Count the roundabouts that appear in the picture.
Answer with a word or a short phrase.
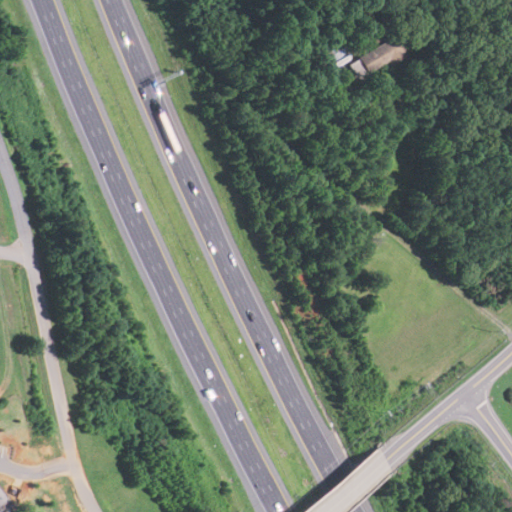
0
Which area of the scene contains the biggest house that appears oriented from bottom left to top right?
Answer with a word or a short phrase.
top right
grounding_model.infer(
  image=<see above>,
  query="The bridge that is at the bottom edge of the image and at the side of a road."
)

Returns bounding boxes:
[306,444,402,512]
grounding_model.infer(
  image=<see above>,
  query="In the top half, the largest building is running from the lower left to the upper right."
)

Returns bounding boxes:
[360,41,404,73]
